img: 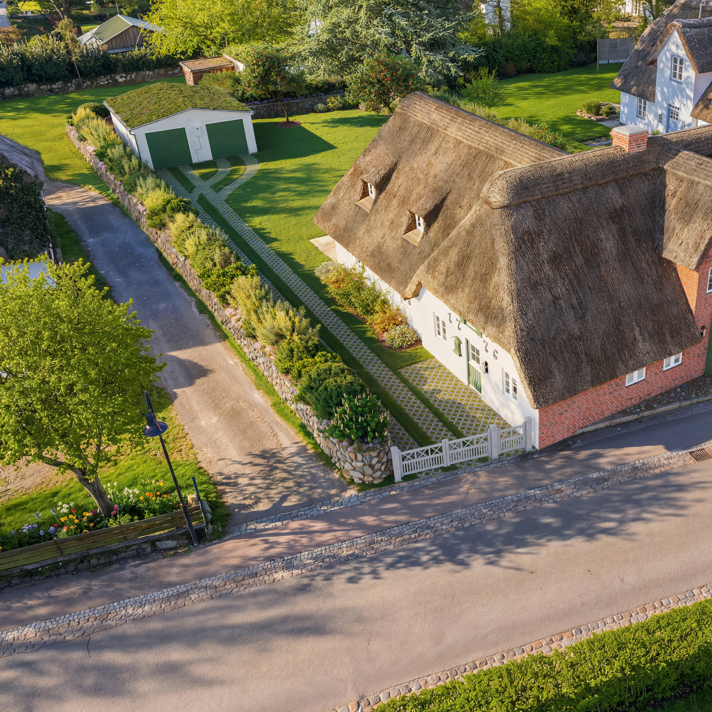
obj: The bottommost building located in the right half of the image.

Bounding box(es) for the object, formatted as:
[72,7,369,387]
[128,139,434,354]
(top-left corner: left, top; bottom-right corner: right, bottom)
[313,85,712,450]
